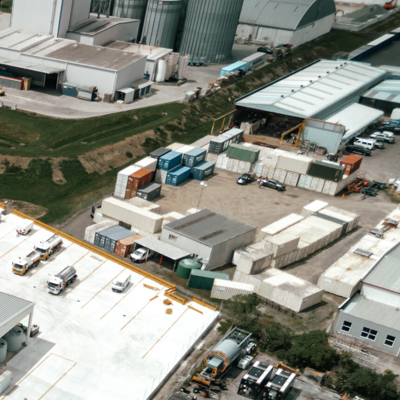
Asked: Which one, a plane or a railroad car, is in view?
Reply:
railroad car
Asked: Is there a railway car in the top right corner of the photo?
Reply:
Yes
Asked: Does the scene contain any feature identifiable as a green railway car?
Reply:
No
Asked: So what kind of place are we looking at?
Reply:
industrial area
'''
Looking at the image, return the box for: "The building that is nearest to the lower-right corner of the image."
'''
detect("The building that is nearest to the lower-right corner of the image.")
[336,235,400,355]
